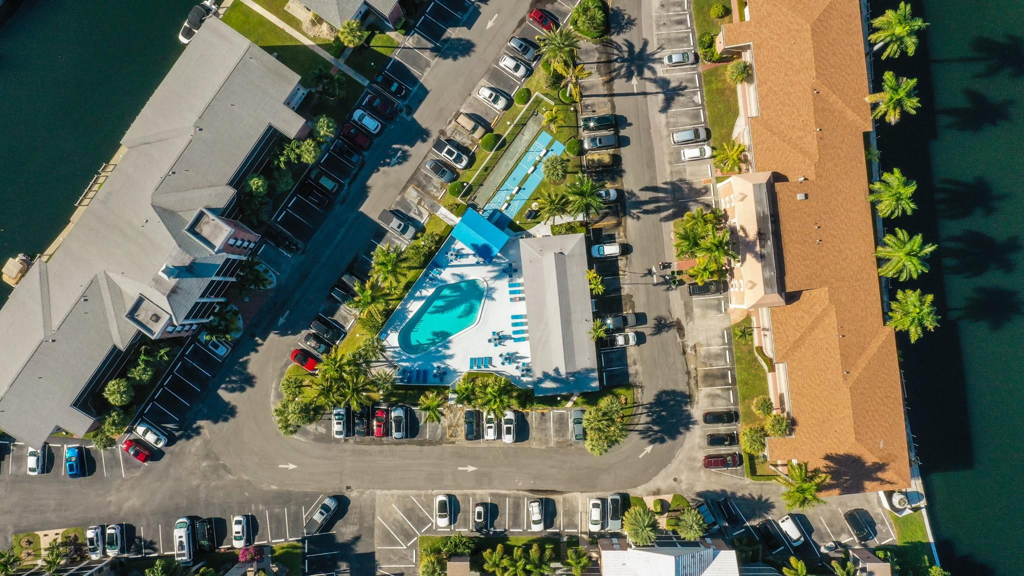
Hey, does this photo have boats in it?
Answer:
Yes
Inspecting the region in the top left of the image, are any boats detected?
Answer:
Yes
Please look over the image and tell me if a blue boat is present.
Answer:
No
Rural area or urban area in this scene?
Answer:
urban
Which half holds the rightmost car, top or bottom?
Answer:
bottom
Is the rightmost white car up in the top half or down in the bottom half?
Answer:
bottom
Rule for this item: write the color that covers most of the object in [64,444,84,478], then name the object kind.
blue car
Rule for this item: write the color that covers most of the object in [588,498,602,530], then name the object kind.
white car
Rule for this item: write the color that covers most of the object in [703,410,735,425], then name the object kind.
black car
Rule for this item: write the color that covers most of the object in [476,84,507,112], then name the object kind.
white car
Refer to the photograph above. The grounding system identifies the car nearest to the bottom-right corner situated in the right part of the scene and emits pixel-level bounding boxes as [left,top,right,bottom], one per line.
[845,508,869,542]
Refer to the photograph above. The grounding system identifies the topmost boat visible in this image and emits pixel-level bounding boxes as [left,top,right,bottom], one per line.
[182,0,219,46]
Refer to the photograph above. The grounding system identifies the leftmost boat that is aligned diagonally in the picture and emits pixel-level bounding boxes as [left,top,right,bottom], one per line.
[0,253,31,287]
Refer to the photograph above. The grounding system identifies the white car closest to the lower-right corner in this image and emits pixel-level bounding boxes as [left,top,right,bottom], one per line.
[775,511,803,547]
